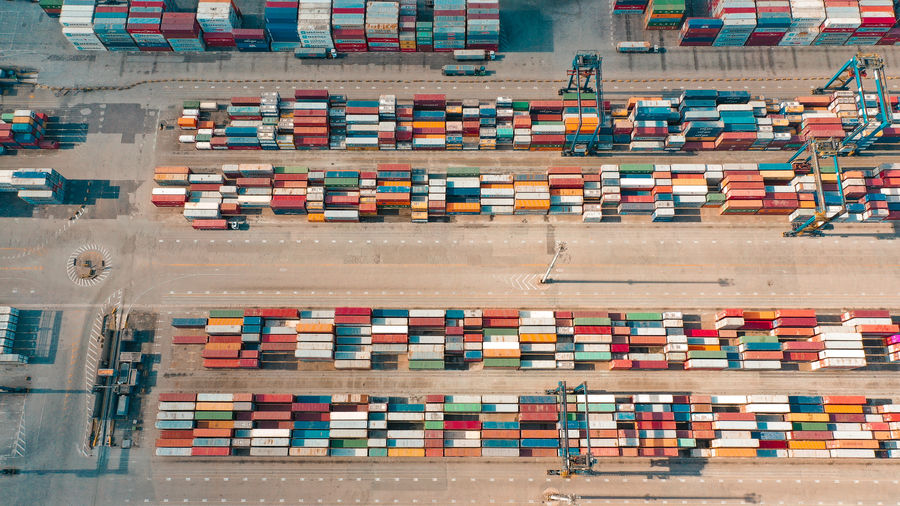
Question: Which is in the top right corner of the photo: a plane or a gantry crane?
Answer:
gantry crane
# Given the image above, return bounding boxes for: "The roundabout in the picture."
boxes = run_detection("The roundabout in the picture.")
[68,243,112,286]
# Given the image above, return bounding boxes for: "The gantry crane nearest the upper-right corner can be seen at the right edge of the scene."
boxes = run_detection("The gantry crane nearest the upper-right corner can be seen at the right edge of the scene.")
[821,57,892,155]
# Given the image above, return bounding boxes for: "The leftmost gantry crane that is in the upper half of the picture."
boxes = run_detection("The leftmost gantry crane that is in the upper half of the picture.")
[560,54,603,155]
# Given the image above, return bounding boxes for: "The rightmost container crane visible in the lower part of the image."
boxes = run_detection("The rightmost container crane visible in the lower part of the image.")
[546,379,592,475]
